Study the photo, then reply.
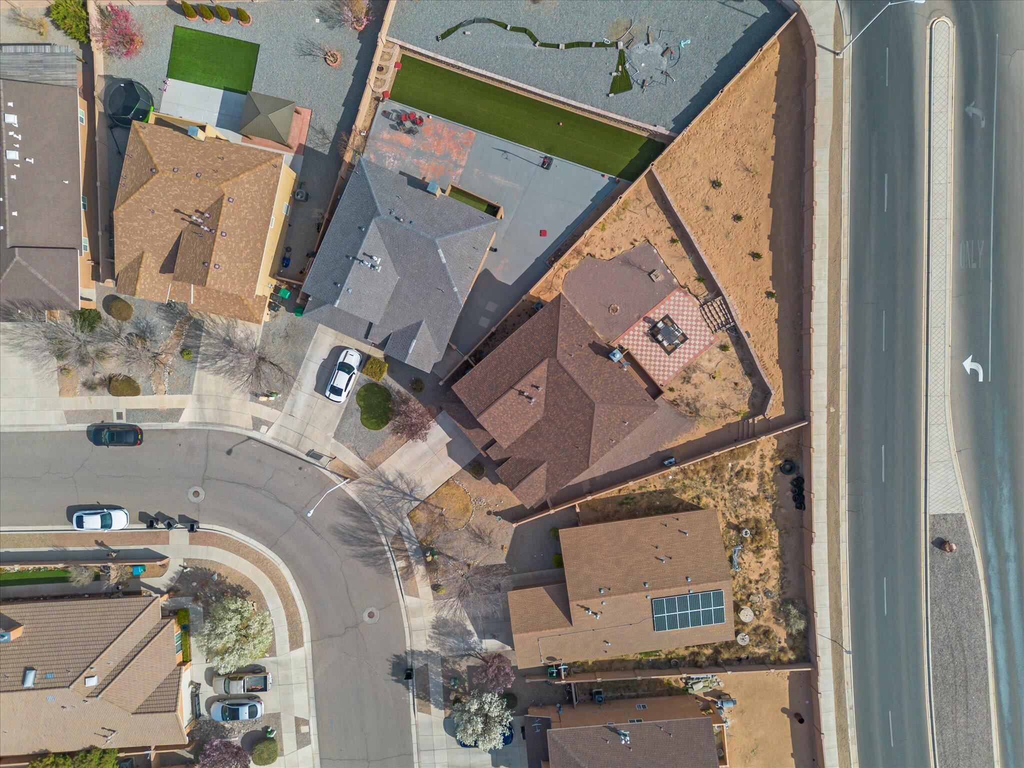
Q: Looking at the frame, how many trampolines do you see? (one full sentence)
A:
Only 1 trampoline is visible.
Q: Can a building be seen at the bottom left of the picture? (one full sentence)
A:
Yes, I can see a building at the bottom left of the picture.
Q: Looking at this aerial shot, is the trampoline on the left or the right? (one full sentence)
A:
You can find the trampoline on the left side of the picture.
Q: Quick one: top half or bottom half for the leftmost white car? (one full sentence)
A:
You can find the leftmost white car in the bottom half.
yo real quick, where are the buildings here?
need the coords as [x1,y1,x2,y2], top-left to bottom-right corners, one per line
[524,695,733,768]
[437,293,668,509]
[113,106,298,325]
[508,508,735,669]
[0,80,98,323]
[0,592,197,761]
[302,158,503,373]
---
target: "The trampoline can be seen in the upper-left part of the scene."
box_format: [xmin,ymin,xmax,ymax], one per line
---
[90,66,154,128]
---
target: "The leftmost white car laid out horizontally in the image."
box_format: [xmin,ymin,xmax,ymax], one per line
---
[73,509,132,534]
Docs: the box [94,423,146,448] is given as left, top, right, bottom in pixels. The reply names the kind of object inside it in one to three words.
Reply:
car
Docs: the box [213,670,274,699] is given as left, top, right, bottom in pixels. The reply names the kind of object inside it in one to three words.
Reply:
truck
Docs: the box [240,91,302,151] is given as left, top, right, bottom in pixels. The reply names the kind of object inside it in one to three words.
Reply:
gazebo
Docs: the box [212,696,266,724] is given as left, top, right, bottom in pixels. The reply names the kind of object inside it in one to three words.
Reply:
car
